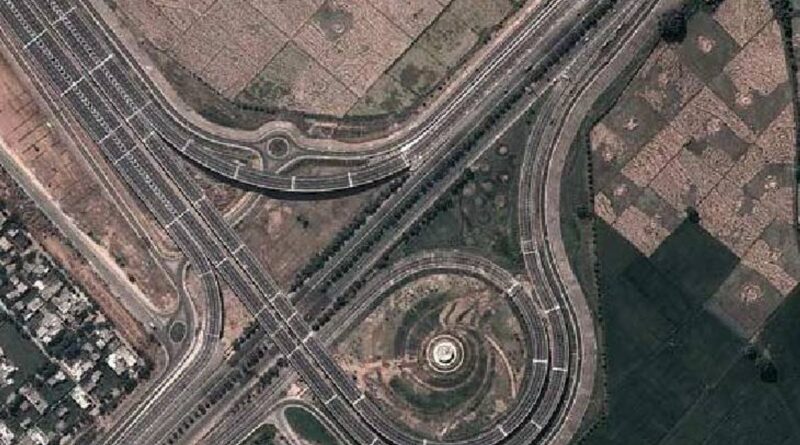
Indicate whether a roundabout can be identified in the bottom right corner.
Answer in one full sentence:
No, no roundabout is visible in the bottom right corner.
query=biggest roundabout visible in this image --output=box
[262,132,294,162]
